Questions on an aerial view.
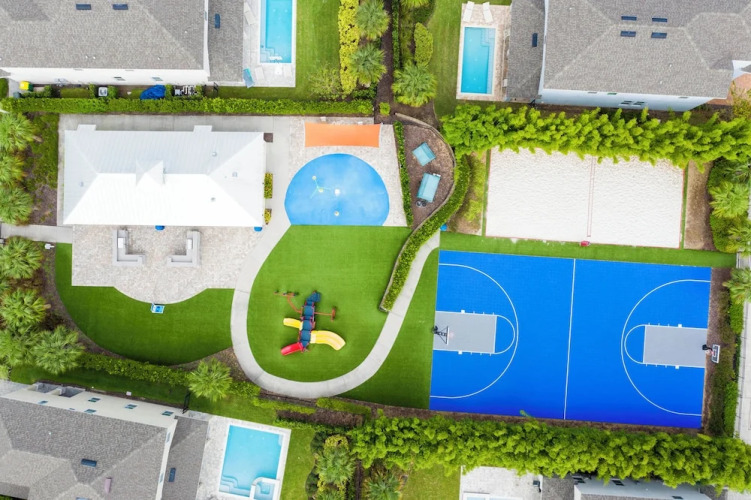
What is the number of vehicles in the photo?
none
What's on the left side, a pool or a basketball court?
pool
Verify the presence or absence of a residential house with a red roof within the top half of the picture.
No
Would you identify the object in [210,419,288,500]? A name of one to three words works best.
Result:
swimming pool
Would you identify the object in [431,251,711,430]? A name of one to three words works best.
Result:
basketball court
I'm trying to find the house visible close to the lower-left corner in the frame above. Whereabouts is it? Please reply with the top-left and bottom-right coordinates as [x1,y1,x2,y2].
[0,370,211,500]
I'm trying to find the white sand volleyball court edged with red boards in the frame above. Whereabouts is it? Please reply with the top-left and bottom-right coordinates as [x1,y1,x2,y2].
[486,141,691,249]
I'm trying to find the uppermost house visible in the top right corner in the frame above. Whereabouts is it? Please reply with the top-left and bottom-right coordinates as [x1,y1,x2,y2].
[502,0,751,109]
